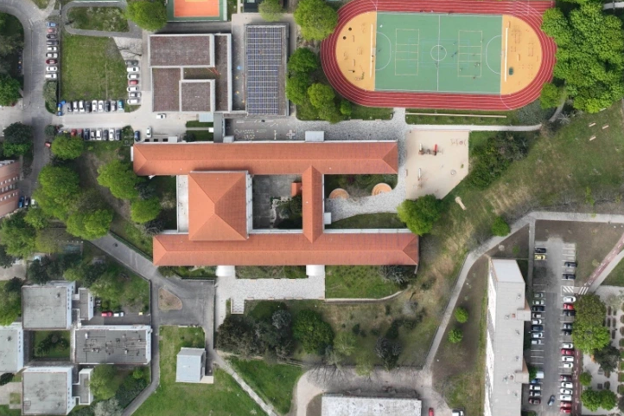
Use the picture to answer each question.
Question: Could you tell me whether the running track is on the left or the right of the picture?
right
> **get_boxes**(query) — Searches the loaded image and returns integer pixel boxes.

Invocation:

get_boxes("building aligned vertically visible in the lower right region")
[482,260,531,416]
